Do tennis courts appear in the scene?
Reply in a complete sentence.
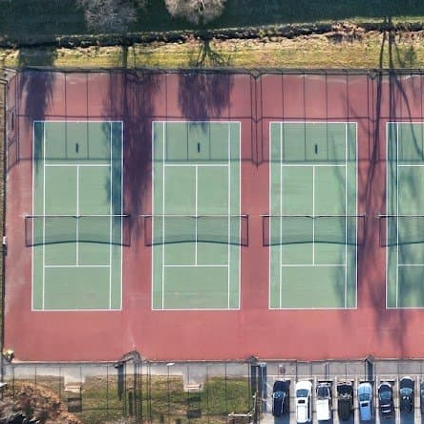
Yes, the frame does contain a tennis court.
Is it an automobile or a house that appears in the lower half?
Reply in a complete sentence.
Looking in the lower half, you will find an automobile.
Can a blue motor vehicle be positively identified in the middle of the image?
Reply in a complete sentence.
No, there's no blue motor vehicle to be seen in the middle of the image.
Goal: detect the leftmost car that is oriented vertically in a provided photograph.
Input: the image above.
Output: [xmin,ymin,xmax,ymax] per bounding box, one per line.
[272,378,291,417]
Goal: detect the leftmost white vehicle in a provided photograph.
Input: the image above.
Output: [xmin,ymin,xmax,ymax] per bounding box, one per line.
[294,379,314,423]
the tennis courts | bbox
[386,122,424,311]
[152,122,241,311]
[270,122,357,311]
[34,122,122,311]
